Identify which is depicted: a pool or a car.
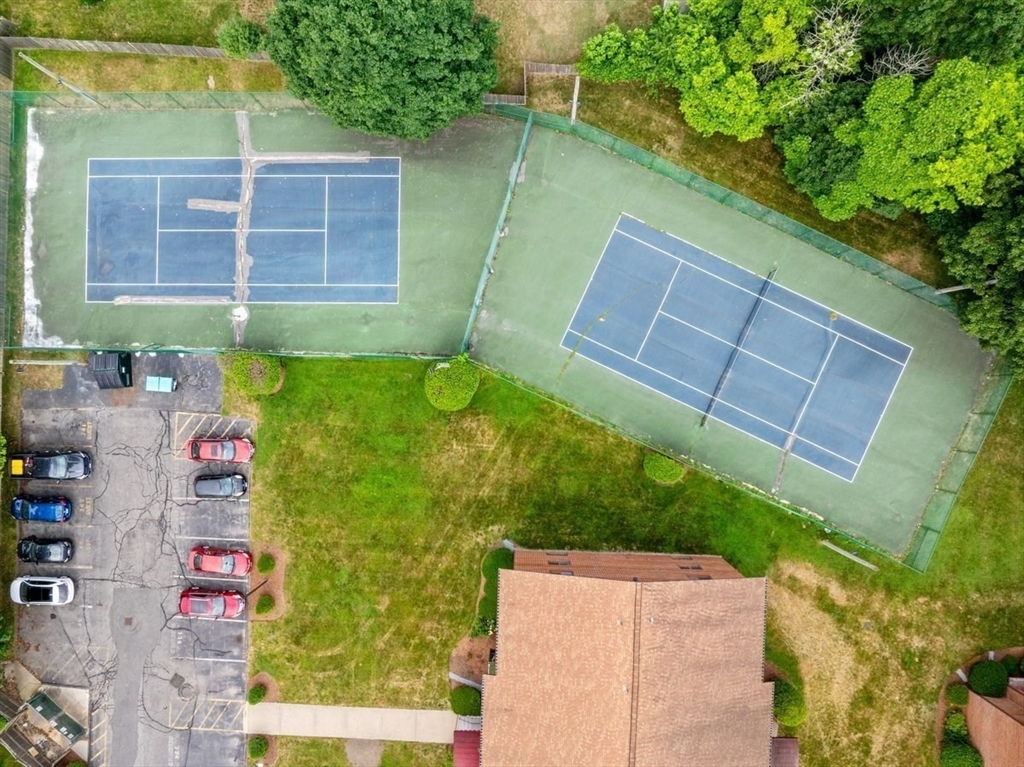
car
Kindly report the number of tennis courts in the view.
2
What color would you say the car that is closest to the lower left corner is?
white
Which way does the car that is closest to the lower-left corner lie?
from side to side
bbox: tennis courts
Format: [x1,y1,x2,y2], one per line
[21,106,528,357]
[468,124,991,555]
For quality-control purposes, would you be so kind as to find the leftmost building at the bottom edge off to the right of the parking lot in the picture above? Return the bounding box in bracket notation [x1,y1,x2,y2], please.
[479,548,775,767]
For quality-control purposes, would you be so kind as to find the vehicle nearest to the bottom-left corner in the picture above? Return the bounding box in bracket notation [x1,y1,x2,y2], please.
[11,576,77,608]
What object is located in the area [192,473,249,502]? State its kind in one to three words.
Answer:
car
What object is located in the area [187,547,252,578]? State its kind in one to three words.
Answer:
car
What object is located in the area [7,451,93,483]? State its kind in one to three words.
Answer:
truck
